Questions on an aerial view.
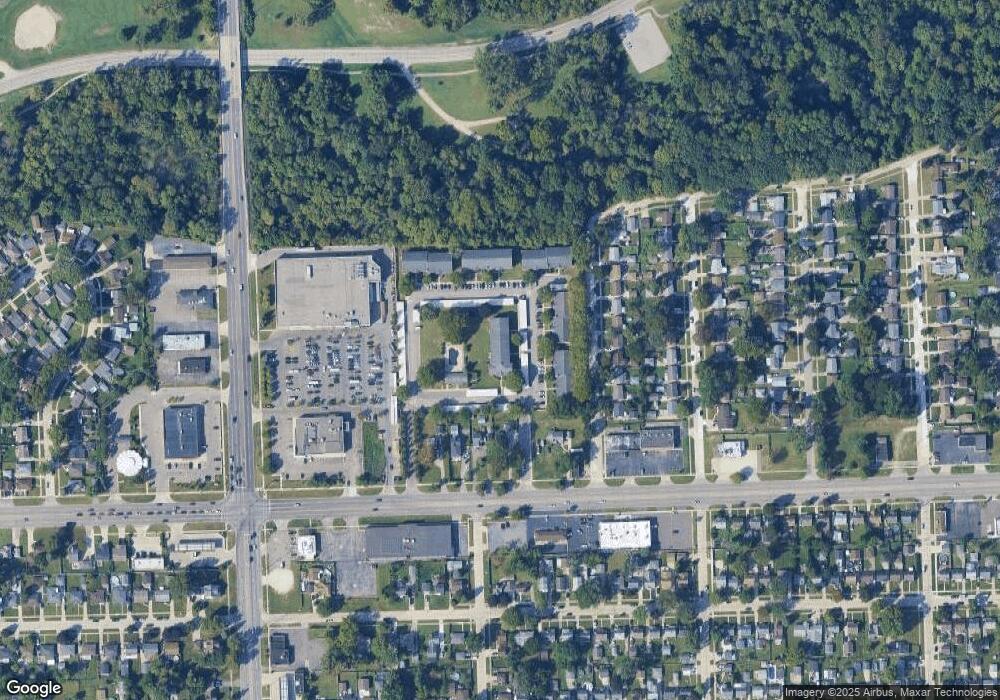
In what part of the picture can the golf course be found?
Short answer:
top left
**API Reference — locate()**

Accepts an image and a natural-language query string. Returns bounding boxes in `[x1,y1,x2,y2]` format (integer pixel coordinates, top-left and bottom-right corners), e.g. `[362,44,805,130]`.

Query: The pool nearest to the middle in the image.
[445,343,464,372]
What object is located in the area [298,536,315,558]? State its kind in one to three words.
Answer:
building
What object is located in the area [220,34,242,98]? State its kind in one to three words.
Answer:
overpass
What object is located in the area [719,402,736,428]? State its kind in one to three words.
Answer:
house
